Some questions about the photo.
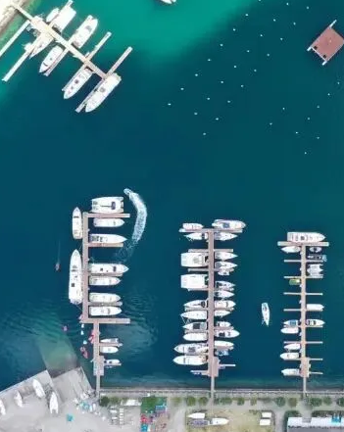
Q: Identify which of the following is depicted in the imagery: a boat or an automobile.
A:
boat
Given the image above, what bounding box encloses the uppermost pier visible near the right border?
[277,242,330,391]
